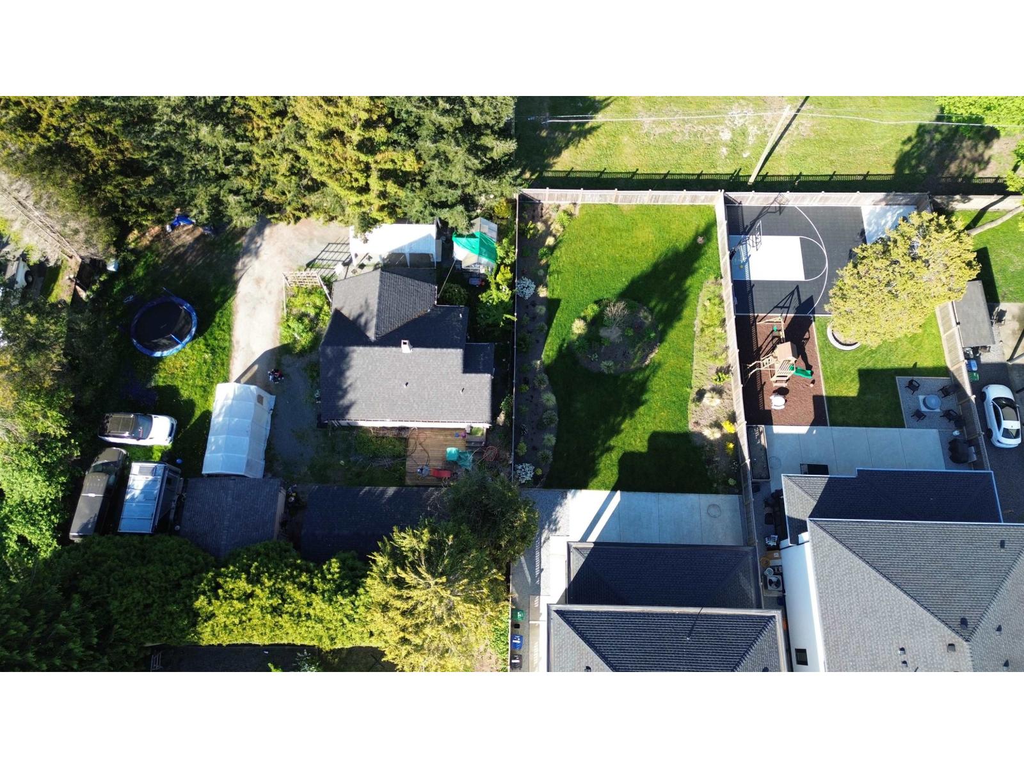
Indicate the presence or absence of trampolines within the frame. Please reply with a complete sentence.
Yes, a trampoline appears in the view.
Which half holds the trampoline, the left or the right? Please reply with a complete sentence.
The trampoline sits on the left side.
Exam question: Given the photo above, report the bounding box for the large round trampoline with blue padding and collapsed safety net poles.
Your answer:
[130,283,201,359]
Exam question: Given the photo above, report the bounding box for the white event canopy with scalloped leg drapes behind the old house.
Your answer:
[347,220,438,267]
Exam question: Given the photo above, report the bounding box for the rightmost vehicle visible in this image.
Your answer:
[982,385,1024,449]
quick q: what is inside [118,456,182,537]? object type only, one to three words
camper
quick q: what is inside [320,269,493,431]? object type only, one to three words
house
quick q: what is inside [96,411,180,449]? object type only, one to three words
car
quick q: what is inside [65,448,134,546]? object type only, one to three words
truck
